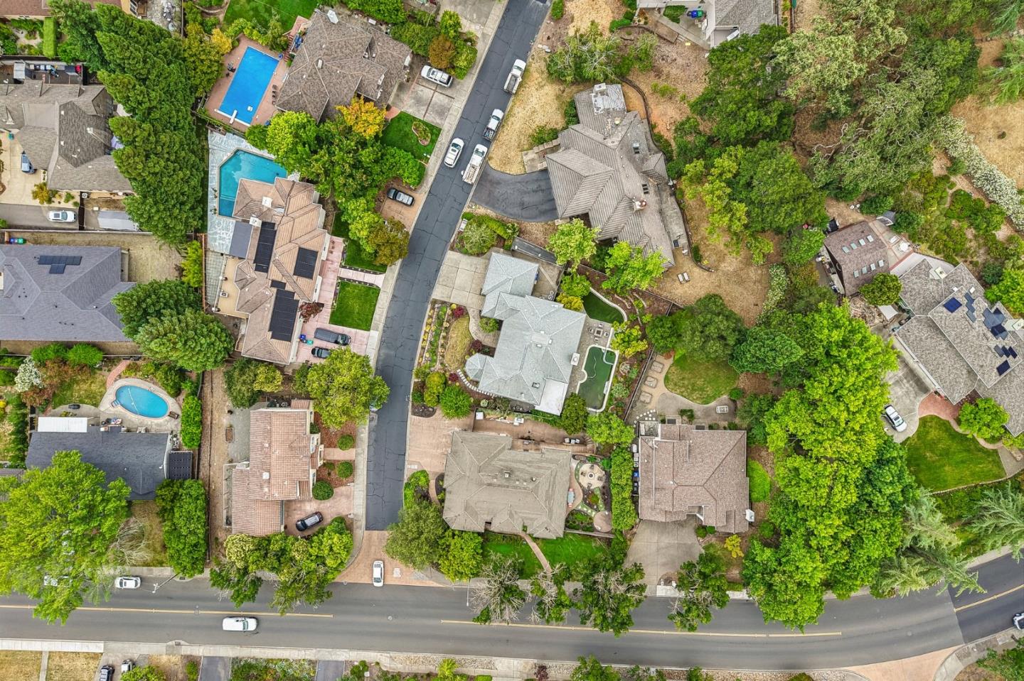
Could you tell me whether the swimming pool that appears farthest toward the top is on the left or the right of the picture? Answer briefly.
left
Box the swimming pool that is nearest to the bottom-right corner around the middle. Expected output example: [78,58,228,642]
[575,342,620,412]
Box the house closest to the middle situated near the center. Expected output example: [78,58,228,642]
[463,251,589,414]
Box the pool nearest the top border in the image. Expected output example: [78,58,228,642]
[213,41,278,127]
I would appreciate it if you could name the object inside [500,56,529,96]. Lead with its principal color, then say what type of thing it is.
white truck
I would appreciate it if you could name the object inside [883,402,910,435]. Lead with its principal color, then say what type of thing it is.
white car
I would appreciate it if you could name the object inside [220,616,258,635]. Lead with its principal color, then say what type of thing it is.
white vehicle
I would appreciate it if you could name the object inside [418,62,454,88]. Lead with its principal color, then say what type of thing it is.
white car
